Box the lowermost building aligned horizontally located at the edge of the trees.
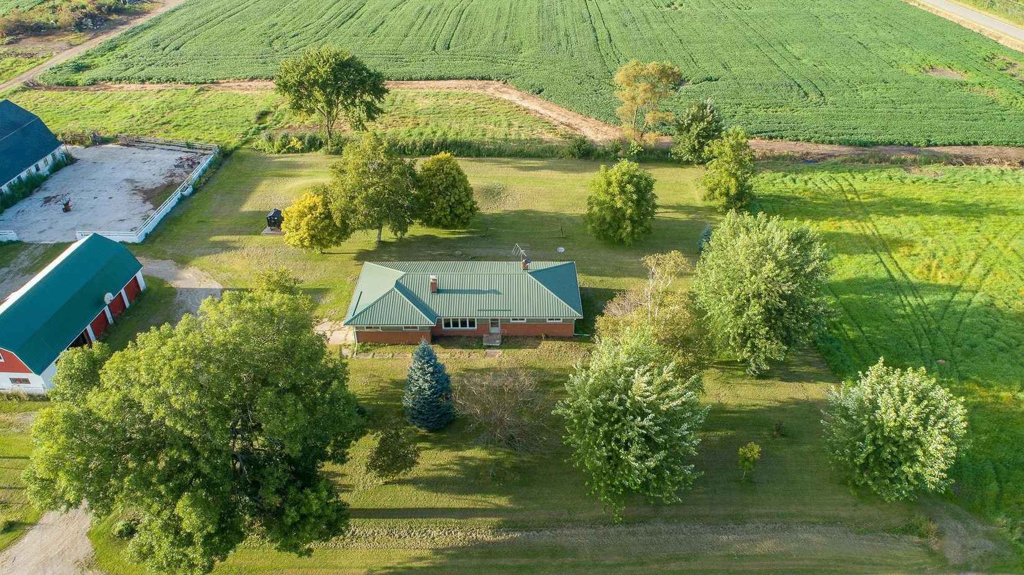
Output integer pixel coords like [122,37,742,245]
[344,258,594,354]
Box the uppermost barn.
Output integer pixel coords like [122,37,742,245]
[0,97,68,210]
